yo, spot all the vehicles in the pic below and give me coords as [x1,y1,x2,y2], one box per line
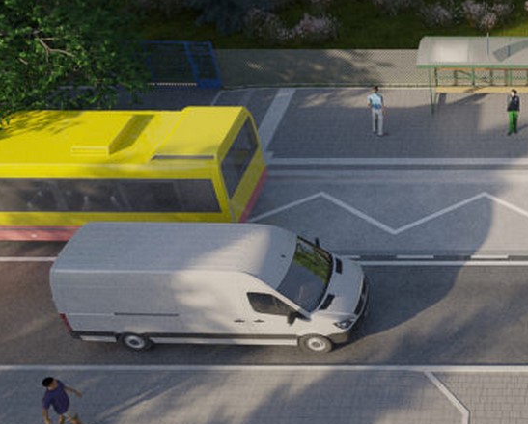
[0,105,264,240]
[54,222,373,354]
